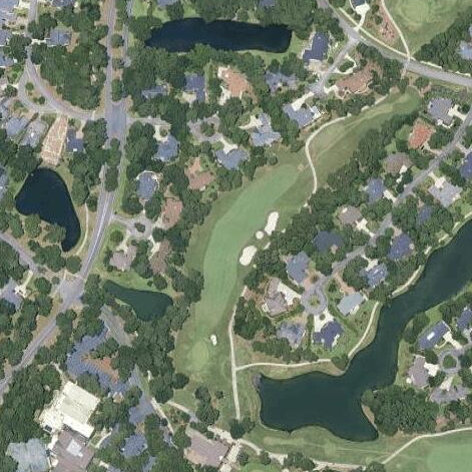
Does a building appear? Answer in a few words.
Yes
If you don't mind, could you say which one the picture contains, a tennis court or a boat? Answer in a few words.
tennis court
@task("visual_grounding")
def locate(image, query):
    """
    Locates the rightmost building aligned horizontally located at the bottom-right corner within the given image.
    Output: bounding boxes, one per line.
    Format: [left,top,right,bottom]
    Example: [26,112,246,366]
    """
[430,383,467,405]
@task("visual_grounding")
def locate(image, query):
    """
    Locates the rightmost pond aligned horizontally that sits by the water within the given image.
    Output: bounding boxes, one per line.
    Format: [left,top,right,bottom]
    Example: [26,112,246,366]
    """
[145,19,291,53]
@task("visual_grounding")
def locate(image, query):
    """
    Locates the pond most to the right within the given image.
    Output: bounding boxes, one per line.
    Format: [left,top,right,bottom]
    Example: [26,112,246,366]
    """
[259,221,472,442]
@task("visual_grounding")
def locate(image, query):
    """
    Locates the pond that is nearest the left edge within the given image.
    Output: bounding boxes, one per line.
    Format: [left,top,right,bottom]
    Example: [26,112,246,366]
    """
[16,168,81,251]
